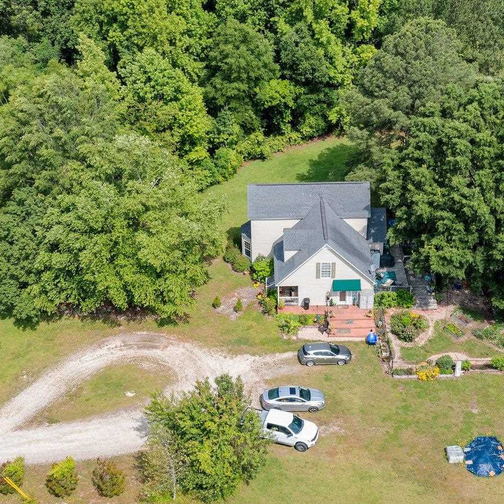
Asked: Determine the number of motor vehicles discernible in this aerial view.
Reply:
three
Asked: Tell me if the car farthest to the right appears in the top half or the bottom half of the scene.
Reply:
bottom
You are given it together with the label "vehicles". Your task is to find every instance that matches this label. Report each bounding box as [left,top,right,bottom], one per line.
[263,408,322,451]
[298,339,353,366]
[262,382,325,411]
